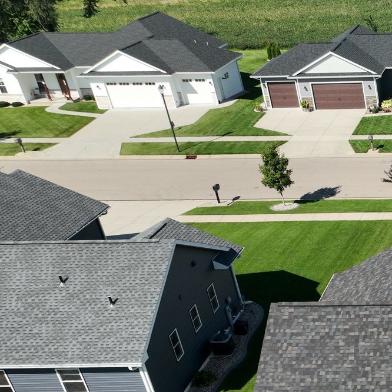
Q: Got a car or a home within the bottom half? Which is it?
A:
home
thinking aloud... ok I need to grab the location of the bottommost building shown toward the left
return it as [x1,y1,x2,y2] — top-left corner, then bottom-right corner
[0,169,252,392]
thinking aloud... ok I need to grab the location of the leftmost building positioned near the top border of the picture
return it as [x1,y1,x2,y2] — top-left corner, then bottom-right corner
[0,12,247,109]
